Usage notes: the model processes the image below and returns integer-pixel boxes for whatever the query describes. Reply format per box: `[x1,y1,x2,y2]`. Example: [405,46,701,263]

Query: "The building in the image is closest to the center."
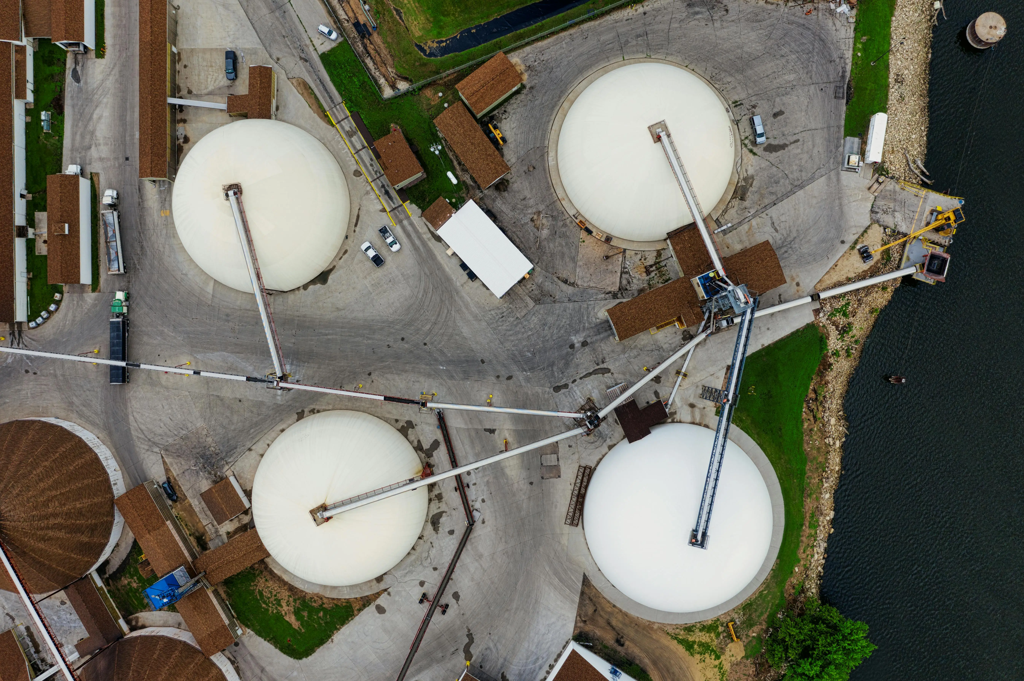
[437,199,534,299]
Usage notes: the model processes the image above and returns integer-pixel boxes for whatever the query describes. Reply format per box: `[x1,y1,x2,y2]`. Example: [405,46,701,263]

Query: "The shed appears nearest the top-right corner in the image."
[722,240,787,297]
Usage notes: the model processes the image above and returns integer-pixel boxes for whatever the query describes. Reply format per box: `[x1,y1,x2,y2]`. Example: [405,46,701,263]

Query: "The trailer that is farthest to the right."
[864,111,887,165]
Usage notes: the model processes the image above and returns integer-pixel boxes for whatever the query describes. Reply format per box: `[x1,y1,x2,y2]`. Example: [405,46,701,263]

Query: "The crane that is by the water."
[856,205,969,266]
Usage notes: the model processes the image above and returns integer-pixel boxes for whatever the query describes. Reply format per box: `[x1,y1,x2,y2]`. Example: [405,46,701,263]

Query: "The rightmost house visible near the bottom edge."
[546,641,616,681]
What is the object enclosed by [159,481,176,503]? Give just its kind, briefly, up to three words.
car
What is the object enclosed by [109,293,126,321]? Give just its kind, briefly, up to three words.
vehicle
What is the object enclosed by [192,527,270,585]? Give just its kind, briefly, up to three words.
shed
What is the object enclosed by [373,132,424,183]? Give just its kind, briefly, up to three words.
building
